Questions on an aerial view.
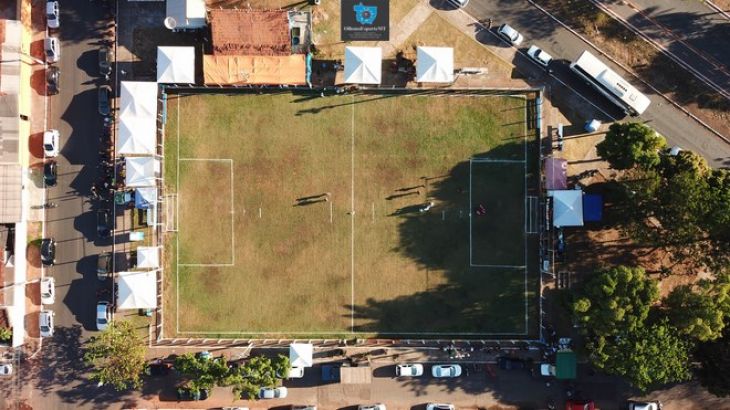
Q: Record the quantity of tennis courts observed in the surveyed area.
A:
0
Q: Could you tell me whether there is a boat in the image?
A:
No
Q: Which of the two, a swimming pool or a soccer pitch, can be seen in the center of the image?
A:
soccer pitch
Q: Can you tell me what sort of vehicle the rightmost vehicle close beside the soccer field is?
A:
bus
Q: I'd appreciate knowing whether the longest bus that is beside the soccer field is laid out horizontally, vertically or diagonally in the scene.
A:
diagonally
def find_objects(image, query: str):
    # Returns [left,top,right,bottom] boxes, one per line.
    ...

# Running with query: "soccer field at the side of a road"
[158,86,541,341]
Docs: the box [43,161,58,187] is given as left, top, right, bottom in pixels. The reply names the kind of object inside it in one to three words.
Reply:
car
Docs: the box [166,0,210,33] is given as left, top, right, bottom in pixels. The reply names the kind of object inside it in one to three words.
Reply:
building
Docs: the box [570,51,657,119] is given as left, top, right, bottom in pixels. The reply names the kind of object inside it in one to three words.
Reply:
bus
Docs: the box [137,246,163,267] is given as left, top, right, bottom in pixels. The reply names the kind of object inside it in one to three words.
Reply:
tent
